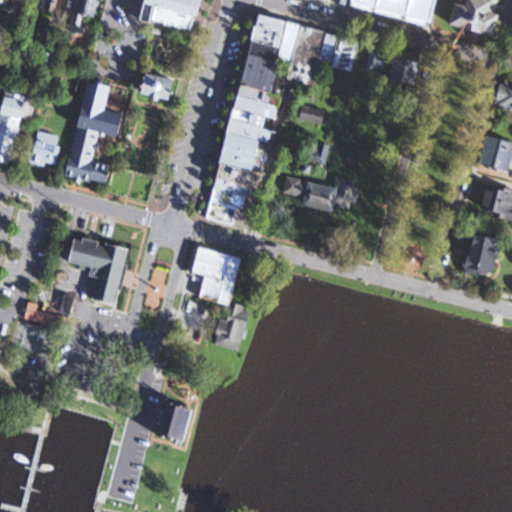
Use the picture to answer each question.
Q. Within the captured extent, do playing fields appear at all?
No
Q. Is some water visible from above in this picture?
Yes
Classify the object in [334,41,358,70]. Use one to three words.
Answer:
shed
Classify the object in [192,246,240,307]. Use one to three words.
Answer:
building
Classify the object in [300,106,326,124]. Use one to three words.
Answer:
house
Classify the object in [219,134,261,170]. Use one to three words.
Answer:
building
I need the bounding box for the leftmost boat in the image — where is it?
[12,450,30,464]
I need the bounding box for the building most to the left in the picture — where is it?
[0,93,36,167]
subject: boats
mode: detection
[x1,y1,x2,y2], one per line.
[36,464,54,473]
[12,450,30,464]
